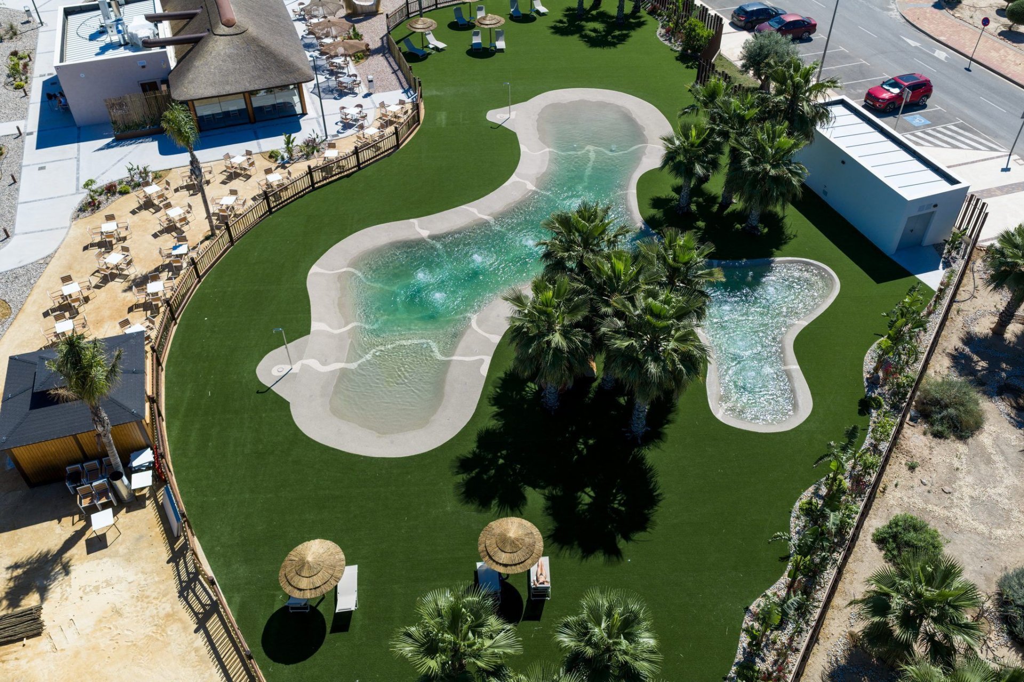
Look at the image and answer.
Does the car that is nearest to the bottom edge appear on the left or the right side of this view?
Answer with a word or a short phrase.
right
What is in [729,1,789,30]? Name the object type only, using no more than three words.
car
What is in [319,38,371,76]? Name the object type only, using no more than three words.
umbrella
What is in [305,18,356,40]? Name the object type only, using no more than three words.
umbrella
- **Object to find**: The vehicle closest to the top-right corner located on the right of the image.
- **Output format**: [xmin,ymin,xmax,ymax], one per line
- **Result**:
[865,67,940,108]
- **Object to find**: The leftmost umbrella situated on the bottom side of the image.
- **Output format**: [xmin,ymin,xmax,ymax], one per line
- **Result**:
[278,542,347,602]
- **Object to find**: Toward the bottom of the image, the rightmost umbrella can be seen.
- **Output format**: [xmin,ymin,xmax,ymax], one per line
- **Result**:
[477,520,544,578]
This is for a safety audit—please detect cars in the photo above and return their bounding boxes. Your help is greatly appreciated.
[729,1,789,30]
[754,12,819,41]
[865,67,940,108]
